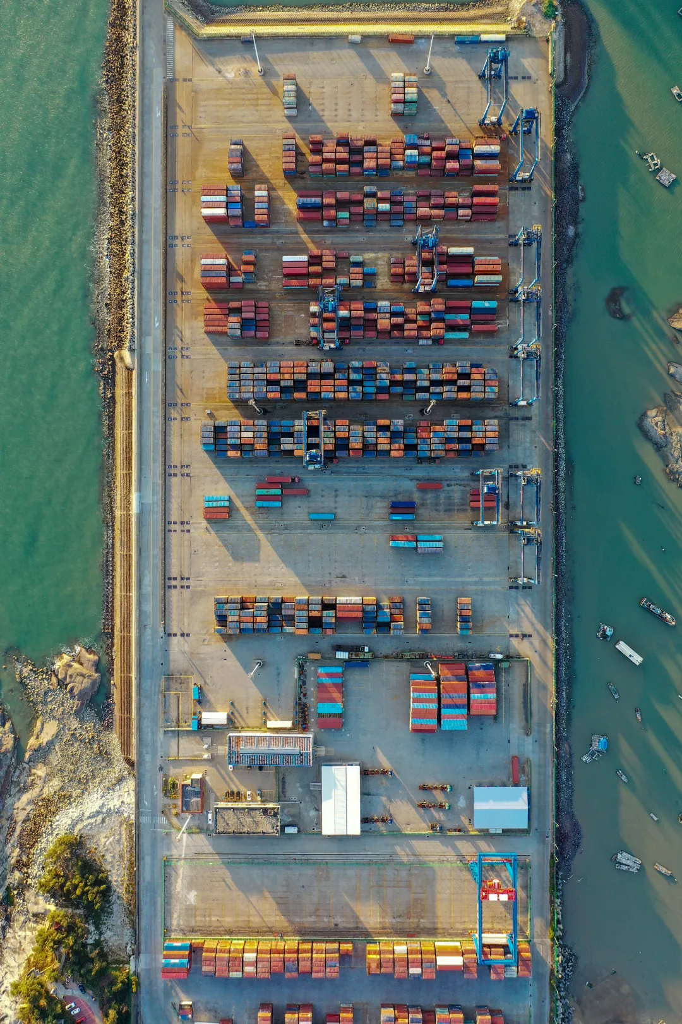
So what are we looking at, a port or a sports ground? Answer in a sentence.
This looks like a port.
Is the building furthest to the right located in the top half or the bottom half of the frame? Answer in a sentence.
You can find the building furthest to the right in the bottom half.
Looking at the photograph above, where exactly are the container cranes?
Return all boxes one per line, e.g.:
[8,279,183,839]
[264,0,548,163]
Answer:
[510,221,547,292]
[510,468,547,528]
[414,225,445,292]
[510,281,547,348]
[479,49,513,123]
[473,467,507,527]
[510,340,547,405]
[510,528,547,587]
[470,855,518,961]
[303,408,329,468]
[318,284,344,347]
[511,104,547,180]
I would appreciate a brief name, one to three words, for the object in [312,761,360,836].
building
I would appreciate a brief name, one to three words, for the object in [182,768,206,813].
building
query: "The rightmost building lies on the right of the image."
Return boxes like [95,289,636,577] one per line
[472,781,529,829]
